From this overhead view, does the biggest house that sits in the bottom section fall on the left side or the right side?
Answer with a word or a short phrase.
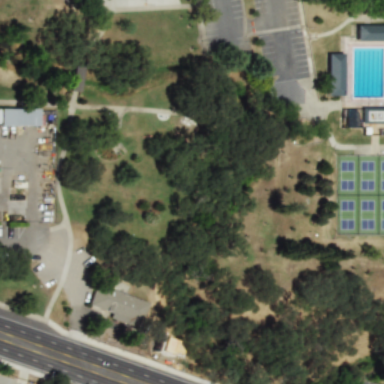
left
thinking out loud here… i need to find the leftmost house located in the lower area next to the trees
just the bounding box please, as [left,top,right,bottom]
[92,290,150,326]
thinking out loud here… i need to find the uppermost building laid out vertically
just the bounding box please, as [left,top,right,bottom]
[330,54,348,96]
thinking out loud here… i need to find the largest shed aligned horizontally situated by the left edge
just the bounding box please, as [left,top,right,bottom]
[4,109,44,126]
